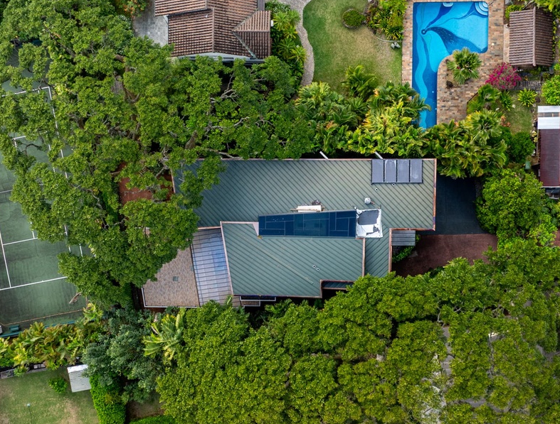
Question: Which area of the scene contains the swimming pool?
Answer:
top right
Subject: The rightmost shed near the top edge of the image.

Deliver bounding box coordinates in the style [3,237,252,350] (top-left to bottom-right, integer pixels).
[507,6,555,67]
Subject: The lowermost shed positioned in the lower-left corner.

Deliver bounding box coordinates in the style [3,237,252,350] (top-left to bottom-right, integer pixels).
[66,363,94,393]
